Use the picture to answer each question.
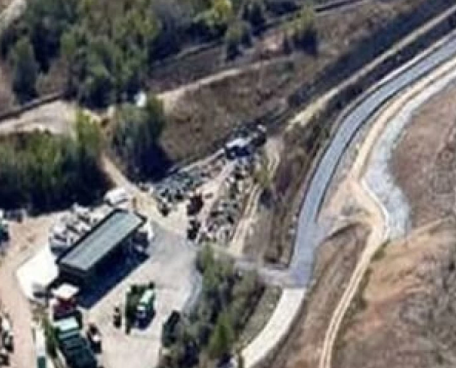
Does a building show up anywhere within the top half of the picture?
No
